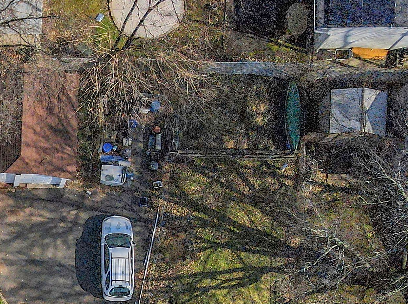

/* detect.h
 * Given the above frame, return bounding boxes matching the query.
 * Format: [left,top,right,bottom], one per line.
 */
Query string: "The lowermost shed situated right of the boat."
[330,84,396,142]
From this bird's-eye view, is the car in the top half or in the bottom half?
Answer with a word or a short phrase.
bottom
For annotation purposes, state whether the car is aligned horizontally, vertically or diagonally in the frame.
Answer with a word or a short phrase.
vertically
